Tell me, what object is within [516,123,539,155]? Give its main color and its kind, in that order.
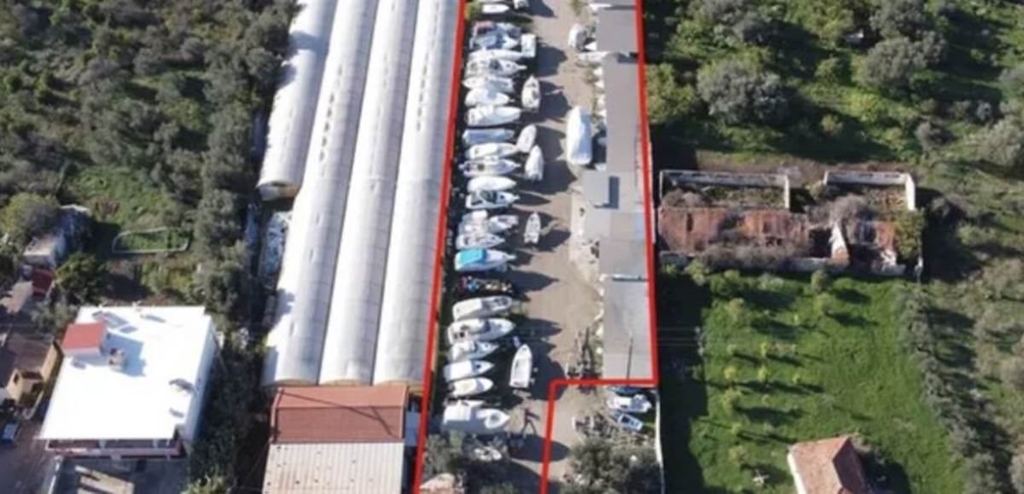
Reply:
white boat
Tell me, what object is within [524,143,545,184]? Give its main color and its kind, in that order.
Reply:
white boat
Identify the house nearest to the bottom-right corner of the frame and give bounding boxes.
[789,435,871,494]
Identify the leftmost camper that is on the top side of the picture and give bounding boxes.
[522,31,536,55]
